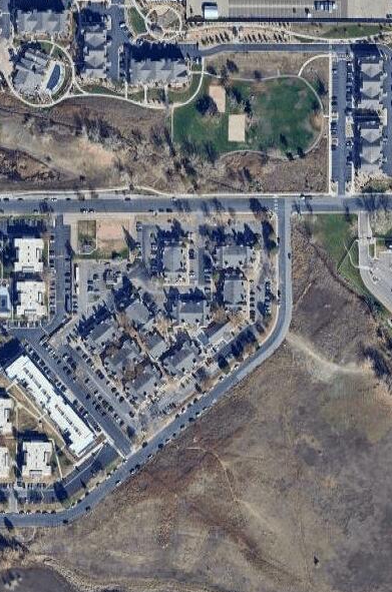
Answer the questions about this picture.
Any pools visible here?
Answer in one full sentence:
Yes, the picture does show a pool.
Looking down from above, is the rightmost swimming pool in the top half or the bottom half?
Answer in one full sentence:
The top half of the photo is where the rightmost swimming pool is.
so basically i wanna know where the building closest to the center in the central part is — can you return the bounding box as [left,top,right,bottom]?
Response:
[175,298,209,323]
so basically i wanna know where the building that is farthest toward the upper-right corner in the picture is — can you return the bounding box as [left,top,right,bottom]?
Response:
[360,56,385,112]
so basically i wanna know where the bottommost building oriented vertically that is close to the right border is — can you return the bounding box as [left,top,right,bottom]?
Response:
[360,122,385,174]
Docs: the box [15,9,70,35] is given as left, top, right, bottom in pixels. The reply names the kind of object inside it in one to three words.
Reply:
building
